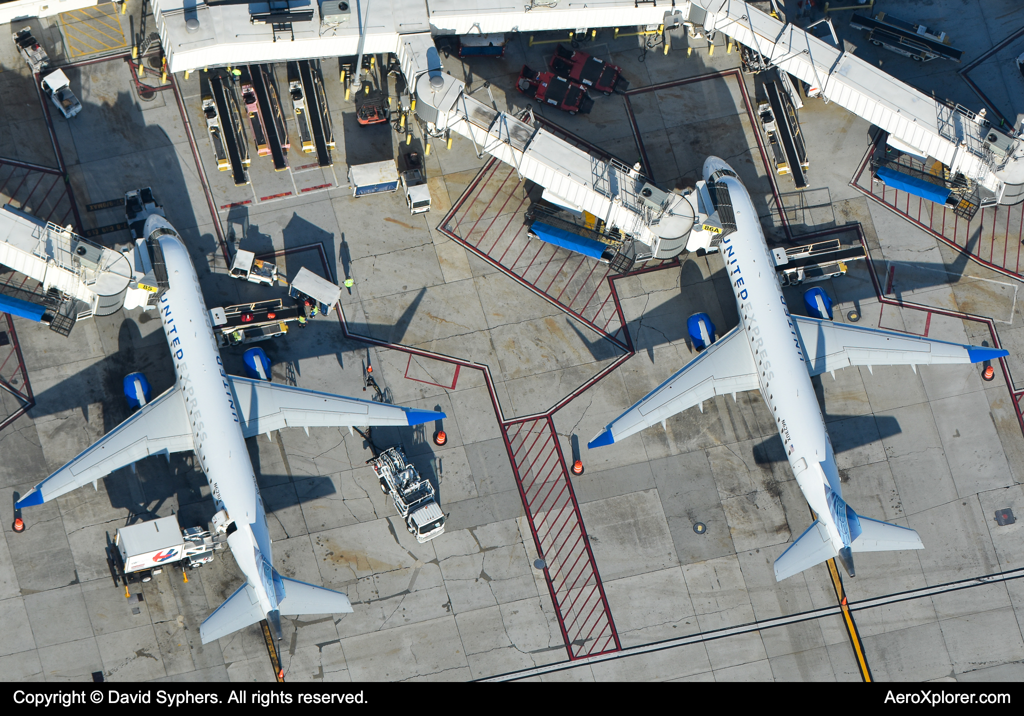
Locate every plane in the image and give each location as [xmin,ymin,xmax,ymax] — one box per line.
[587,158,1009,582]
[14,215,446,645]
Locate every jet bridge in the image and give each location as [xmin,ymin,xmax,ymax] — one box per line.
[415,67,736,294]
[0,204,173,356]
[695,0,1024,239]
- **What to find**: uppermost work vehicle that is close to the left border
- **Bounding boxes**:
[9,26,55,76]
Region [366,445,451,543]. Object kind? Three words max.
truck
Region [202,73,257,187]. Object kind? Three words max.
work vehicle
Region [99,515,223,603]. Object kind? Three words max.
truck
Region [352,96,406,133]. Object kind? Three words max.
work vehicle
